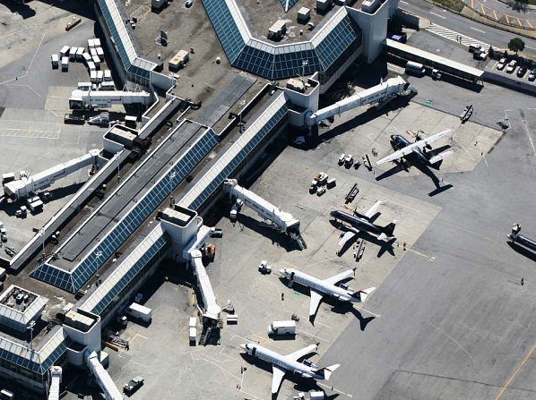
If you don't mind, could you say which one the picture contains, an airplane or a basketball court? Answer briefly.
airplane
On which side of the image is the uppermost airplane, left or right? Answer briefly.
right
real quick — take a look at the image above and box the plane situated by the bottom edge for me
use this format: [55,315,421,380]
[242,343,339,394]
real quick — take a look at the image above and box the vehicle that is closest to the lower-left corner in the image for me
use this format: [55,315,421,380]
[0,387,21,400]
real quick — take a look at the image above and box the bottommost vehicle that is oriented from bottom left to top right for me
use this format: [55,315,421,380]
[123,377,144,393]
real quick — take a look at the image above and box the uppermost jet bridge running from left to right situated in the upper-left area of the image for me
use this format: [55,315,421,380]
[64,88,150,117]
